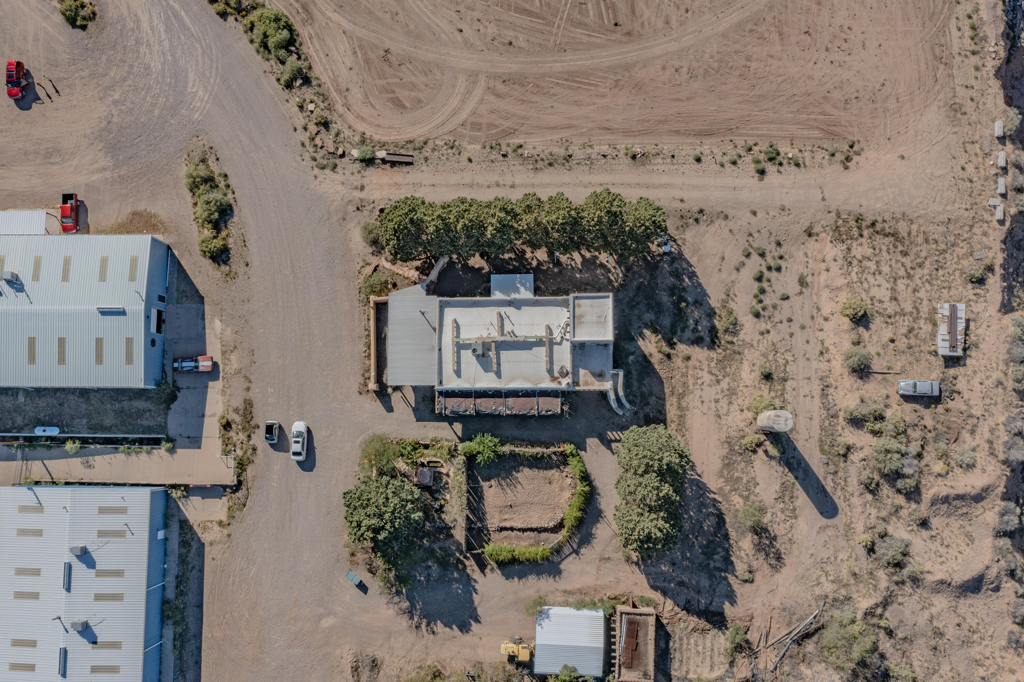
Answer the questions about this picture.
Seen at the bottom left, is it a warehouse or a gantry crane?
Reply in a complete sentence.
The one visible at the bottom left is a warehouse.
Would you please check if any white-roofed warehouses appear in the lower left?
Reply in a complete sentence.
Yes, I can see a white-roofed warehouse in the lower left.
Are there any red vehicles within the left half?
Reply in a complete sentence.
Yes, a red vehicle appears within the left half.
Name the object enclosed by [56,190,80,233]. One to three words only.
truck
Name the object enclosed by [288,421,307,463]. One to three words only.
car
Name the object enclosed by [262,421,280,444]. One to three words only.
car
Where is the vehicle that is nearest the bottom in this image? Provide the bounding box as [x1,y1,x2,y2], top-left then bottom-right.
[497,638,533,662]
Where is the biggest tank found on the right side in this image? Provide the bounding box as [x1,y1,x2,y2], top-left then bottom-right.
[748,409,794,434]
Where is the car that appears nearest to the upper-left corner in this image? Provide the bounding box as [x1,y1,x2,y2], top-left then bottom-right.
[2,58,29,99]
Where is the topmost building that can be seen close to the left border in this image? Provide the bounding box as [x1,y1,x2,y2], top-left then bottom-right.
[0,233,168,391]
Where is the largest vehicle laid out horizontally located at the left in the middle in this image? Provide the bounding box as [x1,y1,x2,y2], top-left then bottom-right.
[171,354,212,373]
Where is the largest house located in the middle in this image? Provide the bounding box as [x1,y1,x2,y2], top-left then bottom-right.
[437,290,613,392]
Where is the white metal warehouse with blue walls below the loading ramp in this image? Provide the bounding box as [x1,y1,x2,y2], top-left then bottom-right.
[0,484,168,682]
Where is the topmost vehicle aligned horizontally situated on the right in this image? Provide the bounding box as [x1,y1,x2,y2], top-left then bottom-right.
[899,379,941,398]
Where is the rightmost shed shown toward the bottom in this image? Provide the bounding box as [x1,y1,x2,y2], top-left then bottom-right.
[610,596,655,682]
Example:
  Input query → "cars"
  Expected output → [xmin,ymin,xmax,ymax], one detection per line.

[288,421,307,463]
[171,354,212,373]
[262,421,280,444]
[899,379,941,398]
[2,58,29,99]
